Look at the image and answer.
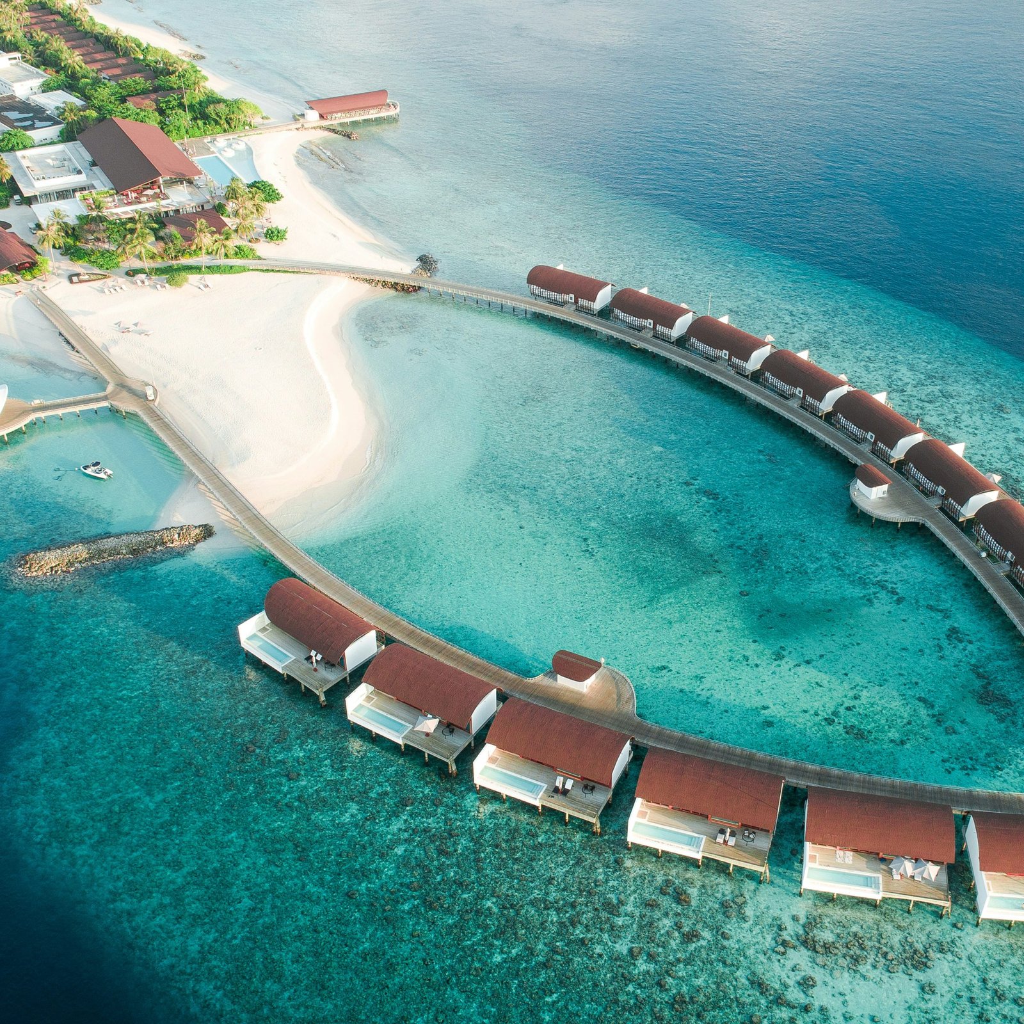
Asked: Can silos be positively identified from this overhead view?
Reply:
No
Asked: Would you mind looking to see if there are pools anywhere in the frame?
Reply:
Yes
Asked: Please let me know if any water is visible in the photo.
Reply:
Yes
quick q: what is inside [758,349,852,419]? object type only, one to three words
house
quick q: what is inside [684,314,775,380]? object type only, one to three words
house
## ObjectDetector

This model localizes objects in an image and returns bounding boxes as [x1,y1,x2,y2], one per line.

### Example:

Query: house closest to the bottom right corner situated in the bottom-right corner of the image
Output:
[959,808,1024,928]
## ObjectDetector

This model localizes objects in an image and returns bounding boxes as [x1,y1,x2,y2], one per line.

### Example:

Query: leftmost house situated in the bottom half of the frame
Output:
[239,583,382,717]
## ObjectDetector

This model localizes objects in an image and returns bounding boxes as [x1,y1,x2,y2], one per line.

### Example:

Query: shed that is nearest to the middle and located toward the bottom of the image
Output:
[548,646,597,693]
